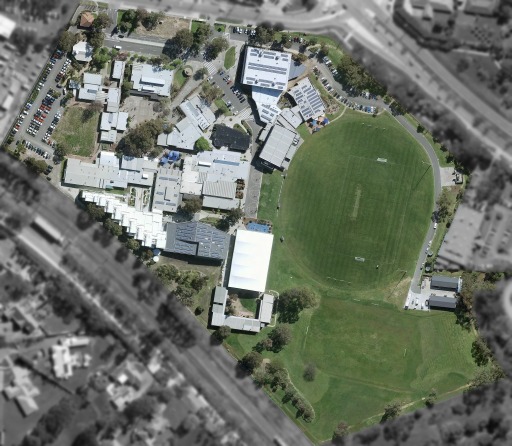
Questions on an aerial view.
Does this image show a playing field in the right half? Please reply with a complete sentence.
Yes, the scene does show a playing field in the right half.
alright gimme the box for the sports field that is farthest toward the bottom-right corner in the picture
[310,296,478,393]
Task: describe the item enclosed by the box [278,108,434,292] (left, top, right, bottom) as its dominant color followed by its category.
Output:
green sports field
